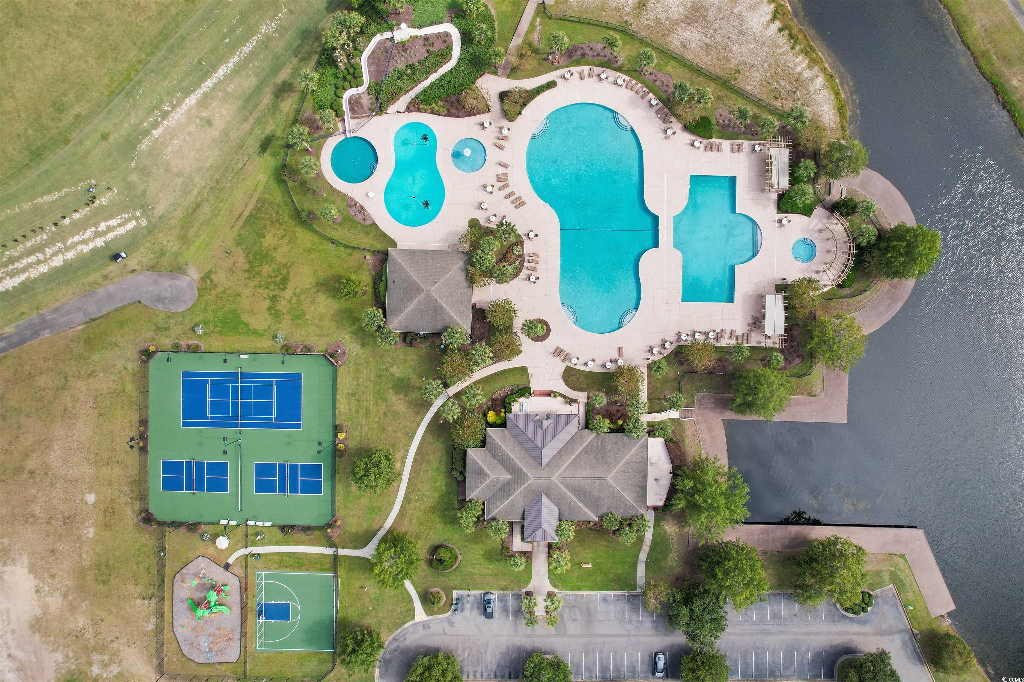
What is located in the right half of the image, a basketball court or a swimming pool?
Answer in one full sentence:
Looking in the right half of the image, you will find a swimming pool.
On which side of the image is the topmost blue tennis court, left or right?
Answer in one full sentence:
The topmost blue tennis court sits on the left side.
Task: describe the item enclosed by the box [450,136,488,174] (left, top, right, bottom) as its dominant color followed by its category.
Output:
blue swimming pool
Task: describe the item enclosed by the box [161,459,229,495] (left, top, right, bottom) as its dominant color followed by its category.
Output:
blue sports court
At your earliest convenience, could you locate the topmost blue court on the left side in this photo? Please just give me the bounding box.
[181,367,302,435]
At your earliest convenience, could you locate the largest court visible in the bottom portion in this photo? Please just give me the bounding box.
[148,352,337,526]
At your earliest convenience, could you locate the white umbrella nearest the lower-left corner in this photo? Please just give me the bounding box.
[216,536,230,549]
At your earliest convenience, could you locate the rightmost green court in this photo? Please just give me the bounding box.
[254,571,336,652]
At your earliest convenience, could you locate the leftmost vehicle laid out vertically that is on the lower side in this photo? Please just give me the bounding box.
[482,594,495,621]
